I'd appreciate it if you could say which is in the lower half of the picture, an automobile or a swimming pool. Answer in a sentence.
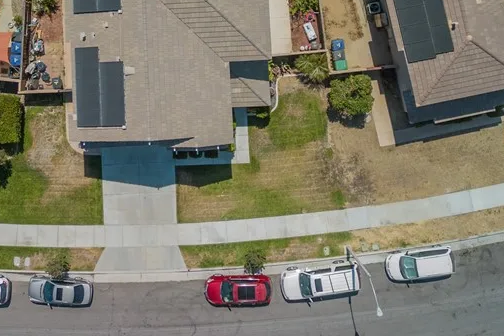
The one visible in the lower half of the picture is an automobile.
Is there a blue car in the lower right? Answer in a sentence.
No, no blue car appears in the lower right.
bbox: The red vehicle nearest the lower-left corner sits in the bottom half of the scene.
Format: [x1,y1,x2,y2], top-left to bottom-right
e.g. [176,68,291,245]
[204,272,270,309]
